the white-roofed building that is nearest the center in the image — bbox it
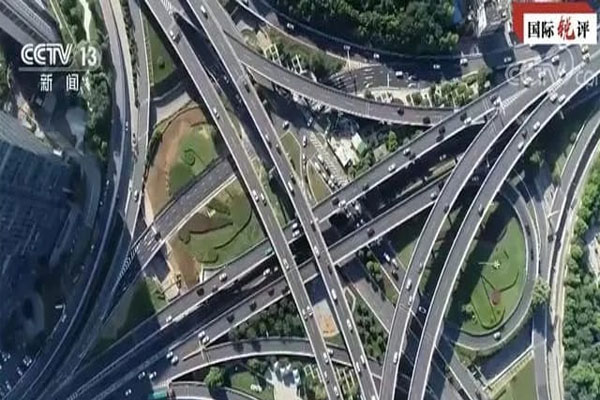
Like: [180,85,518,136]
[328,131,355,167]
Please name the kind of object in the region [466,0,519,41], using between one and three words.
building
